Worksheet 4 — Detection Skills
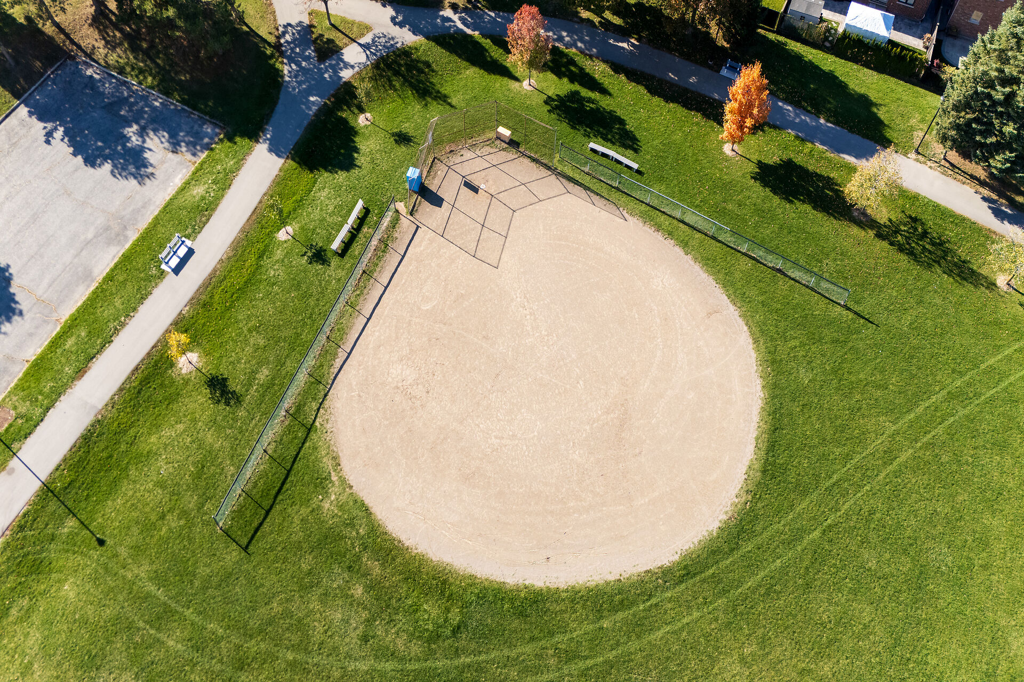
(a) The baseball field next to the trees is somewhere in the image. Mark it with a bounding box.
[325,143,764,588]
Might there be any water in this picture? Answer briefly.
No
